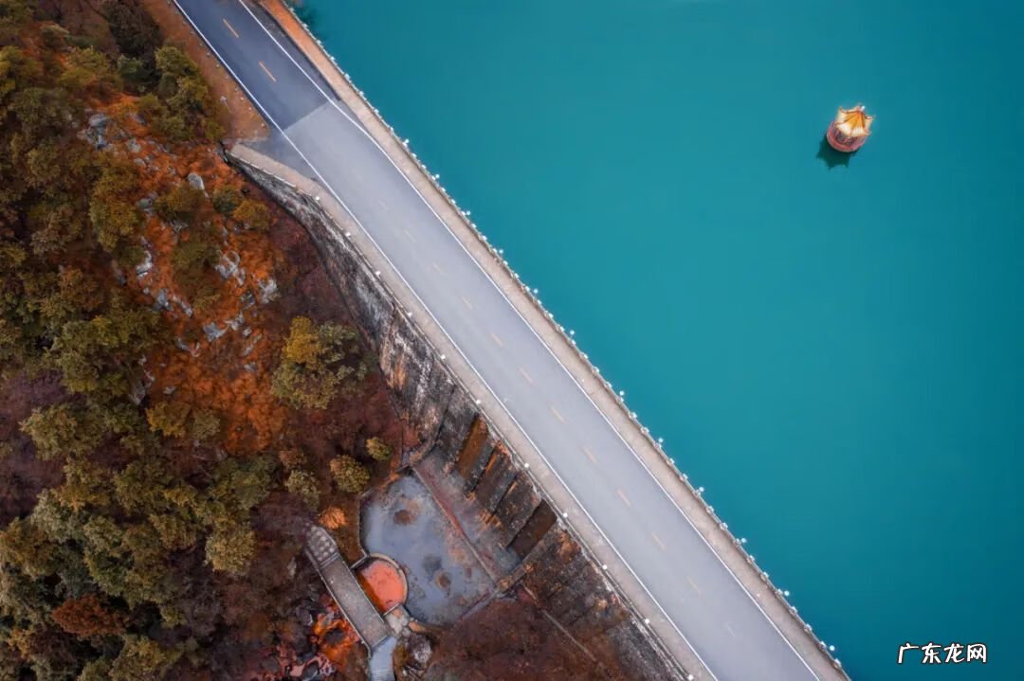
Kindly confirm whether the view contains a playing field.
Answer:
No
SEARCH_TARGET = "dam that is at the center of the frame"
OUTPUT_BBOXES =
[225,0,853,681]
